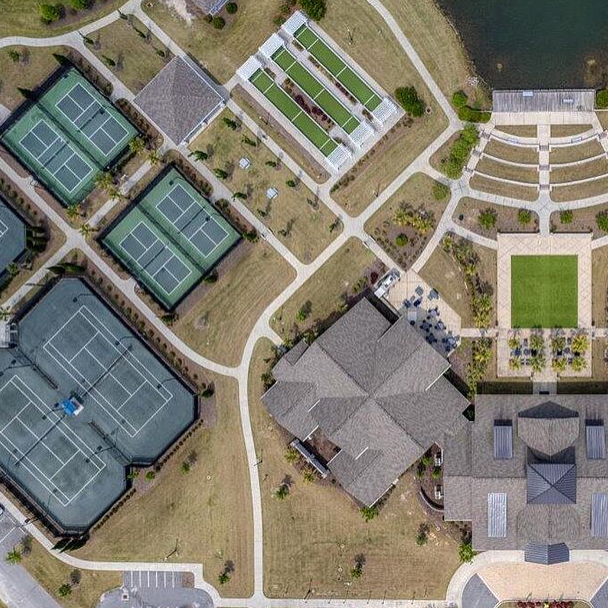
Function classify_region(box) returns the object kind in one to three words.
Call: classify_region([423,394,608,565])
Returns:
building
